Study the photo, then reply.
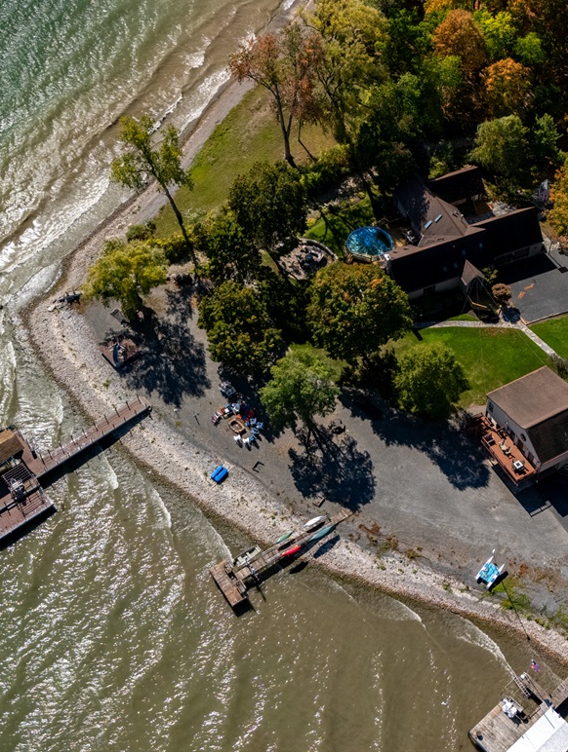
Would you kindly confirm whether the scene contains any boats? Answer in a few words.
Yes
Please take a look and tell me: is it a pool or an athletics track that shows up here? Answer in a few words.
pool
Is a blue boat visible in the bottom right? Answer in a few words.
Yes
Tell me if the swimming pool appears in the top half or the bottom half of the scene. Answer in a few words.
top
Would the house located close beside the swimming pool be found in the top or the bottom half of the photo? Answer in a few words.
top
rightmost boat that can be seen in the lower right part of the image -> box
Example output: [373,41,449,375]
[477,544,504,587]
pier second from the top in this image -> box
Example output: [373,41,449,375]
[210,507,353,610]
